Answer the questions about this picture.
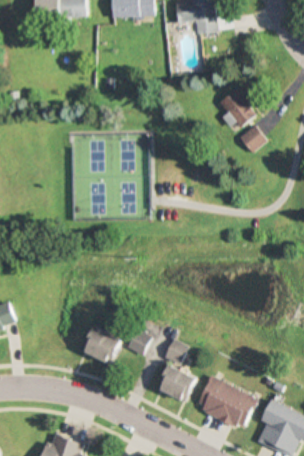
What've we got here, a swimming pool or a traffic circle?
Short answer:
swimming pool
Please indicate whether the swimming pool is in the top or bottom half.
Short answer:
top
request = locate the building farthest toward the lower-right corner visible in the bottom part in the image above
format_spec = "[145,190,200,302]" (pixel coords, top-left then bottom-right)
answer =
[258,399,304,456]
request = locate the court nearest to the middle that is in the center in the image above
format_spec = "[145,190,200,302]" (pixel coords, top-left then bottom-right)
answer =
[122,182,137,214]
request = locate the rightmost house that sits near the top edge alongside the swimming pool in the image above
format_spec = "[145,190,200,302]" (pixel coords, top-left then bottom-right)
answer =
[175,0,222,36]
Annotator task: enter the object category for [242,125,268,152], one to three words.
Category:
building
